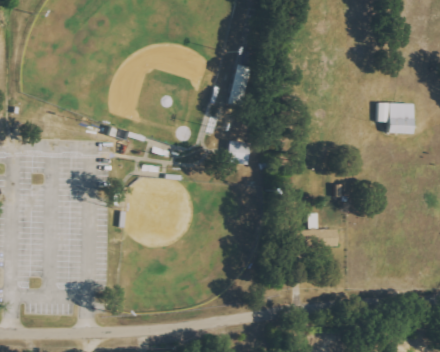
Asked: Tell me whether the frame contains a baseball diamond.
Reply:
Yes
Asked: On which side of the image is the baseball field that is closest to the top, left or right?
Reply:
left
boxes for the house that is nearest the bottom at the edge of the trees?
[301,229,340,246]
